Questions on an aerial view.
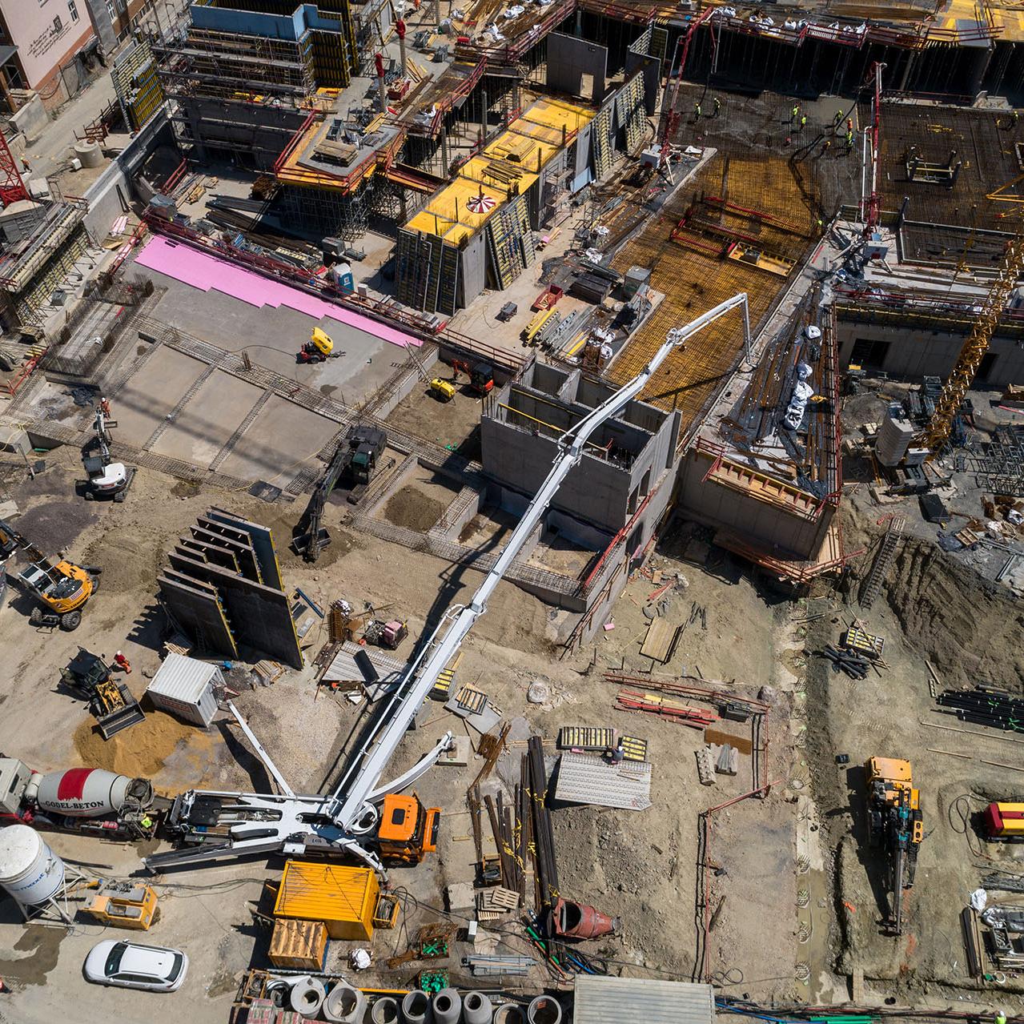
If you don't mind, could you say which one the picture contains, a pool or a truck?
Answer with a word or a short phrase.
truck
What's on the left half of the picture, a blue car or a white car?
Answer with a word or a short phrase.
white car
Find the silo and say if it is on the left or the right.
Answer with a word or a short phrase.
left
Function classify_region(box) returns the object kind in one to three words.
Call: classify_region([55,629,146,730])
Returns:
work vehicle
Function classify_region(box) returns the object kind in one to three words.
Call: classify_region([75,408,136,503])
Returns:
work vehicle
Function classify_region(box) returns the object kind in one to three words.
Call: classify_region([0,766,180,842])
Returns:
truck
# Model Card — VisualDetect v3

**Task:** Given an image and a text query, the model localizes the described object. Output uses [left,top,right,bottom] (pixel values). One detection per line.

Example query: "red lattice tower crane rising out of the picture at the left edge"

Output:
[0,124,20,208]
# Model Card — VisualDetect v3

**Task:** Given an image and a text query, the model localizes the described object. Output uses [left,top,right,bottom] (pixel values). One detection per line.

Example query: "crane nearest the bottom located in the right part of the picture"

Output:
[859,176,1024,501]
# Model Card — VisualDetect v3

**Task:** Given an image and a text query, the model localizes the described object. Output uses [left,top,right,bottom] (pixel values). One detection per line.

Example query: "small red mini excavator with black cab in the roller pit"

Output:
[451,358,499,396]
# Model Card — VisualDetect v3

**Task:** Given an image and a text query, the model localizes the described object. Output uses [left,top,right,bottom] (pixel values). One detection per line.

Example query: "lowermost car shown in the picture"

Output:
[79,932,188,988]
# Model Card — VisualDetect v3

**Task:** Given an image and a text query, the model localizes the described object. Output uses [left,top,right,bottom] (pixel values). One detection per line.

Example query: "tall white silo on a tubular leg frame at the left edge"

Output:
[0,829,76,924]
